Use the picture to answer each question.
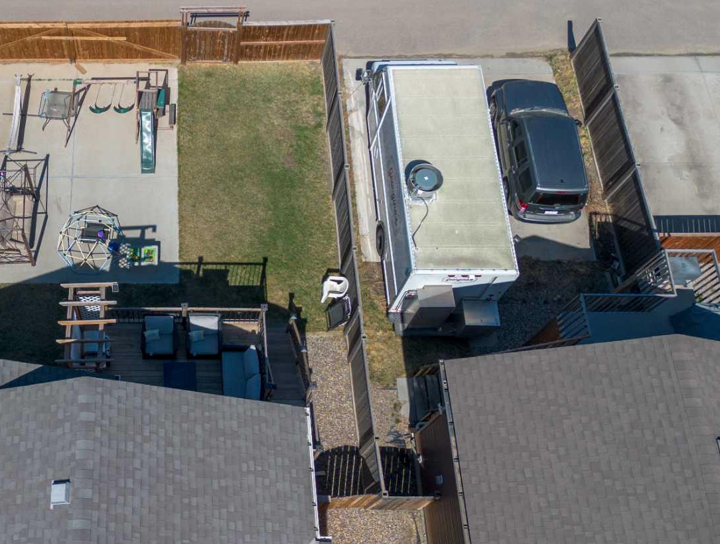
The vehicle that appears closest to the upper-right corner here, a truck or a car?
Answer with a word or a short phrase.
car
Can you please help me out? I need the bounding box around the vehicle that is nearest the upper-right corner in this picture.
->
[489,89,589,224]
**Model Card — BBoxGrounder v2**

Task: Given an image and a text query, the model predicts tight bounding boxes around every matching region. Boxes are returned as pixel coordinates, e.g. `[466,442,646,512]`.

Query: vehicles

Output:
[489,89,589,224]
[358,58,521,335]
